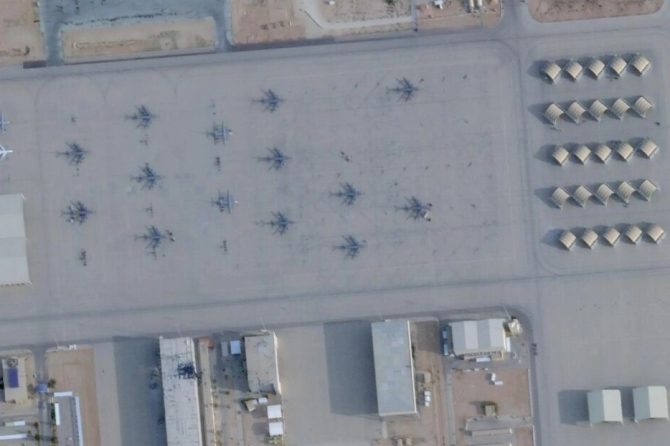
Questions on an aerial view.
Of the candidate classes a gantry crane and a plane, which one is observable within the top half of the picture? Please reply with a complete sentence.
There is a plane within the top half of the picture.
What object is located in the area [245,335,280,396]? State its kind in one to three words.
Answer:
hangar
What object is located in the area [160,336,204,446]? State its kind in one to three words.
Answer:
hangar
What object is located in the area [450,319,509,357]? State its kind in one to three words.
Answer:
building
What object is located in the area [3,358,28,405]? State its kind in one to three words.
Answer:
house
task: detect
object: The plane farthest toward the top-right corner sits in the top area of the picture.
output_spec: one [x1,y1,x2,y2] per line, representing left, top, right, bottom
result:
[396,79,419,101]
